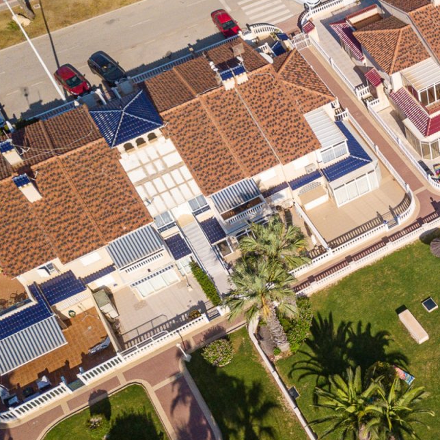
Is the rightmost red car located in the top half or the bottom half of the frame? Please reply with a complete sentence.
Seen from above, the rightmost red car lies in the top half of the view.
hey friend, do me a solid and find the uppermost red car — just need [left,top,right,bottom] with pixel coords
[205,4,247,42]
